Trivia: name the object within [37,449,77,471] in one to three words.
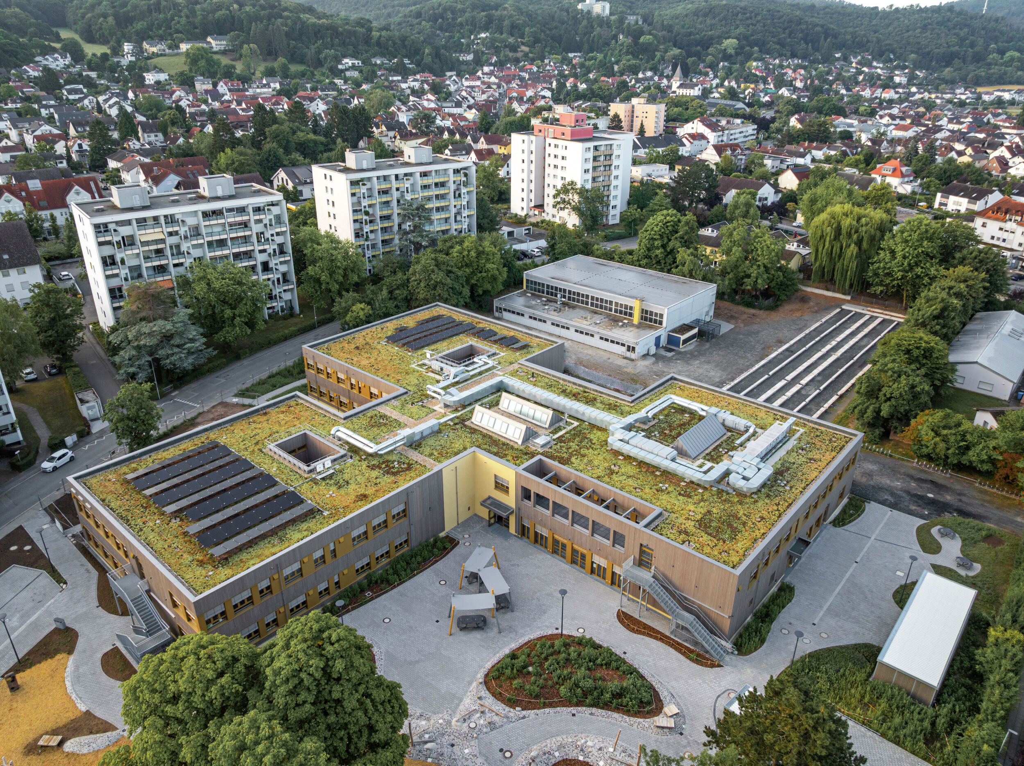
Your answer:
car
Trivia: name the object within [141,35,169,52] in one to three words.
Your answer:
house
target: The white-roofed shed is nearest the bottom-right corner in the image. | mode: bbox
[874,571,977,707]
